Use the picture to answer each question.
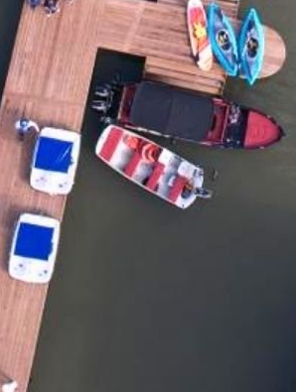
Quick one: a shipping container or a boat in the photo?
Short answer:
boat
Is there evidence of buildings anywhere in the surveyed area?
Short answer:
No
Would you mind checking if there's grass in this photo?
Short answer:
No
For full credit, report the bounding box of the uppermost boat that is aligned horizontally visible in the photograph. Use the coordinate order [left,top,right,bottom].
[103,82,287,153]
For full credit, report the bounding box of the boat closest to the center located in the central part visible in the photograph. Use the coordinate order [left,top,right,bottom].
[96,125,207,211]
